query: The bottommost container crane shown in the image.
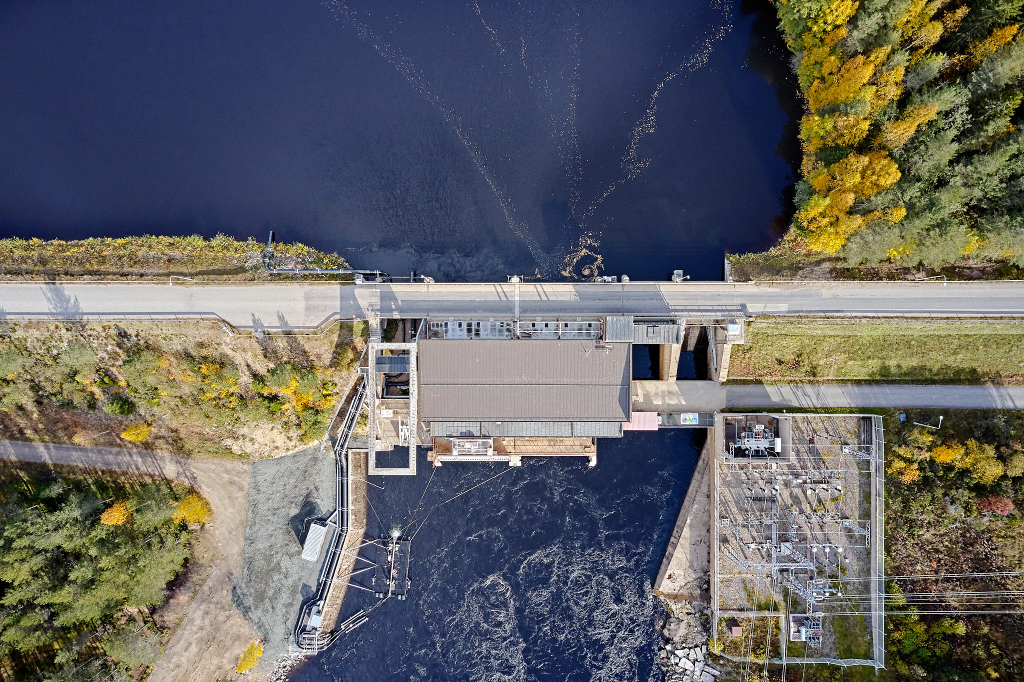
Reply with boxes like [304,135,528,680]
[452,437,493,456]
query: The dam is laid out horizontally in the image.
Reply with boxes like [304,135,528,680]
[356,253,760,340]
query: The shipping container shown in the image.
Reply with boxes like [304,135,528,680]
[301,514,333,561]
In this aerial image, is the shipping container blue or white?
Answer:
white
